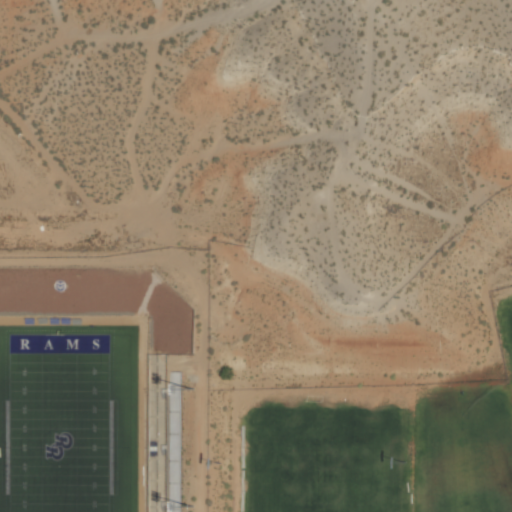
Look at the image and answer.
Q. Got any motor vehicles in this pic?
No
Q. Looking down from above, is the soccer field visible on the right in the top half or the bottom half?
bottom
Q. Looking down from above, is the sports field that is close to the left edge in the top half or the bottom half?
bottom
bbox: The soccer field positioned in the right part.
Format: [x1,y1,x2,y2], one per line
[244,398,414,512]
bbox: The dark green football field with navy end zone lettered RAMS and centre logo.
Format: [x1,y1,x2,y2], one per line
[0,325,140,512]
